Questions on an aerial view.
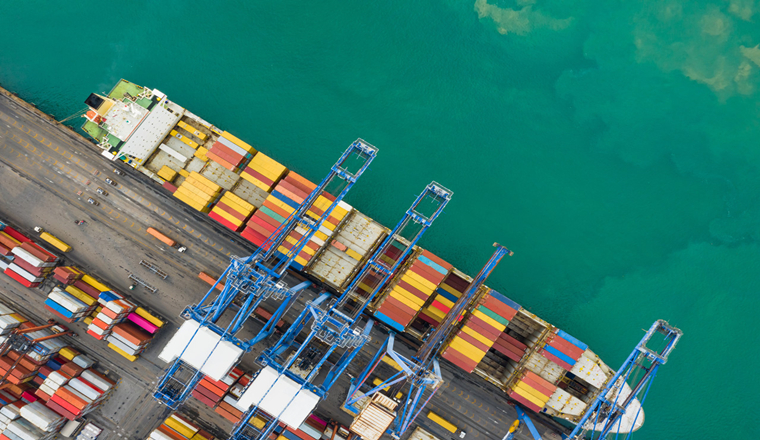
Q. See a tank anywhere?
No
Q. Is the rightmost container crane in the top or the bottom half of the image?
bottom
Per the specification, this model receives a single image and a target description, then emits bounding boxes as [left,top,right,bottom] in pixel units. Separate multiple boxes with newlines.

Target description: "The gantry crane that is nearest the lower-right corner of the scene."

[499,323,686,440]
